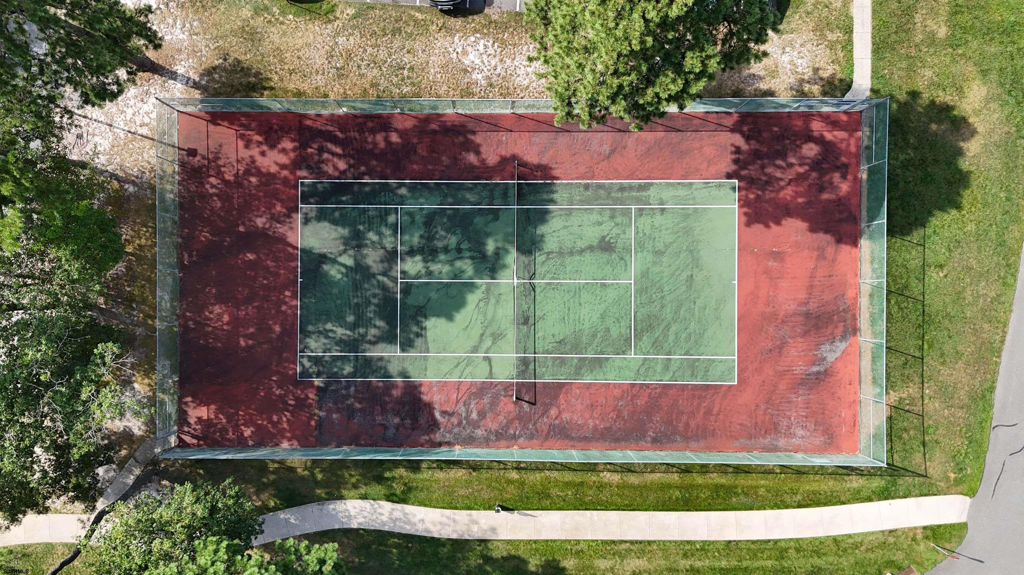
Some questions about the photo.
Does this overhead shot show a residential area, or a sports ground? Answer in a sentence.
It's a sports ground.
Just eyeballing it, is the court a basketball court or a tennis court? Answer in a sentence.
From above, the court can be identified as a tennis court.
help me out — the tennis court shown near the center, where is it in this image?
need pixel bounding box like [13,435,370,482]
[177,111,861,454]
